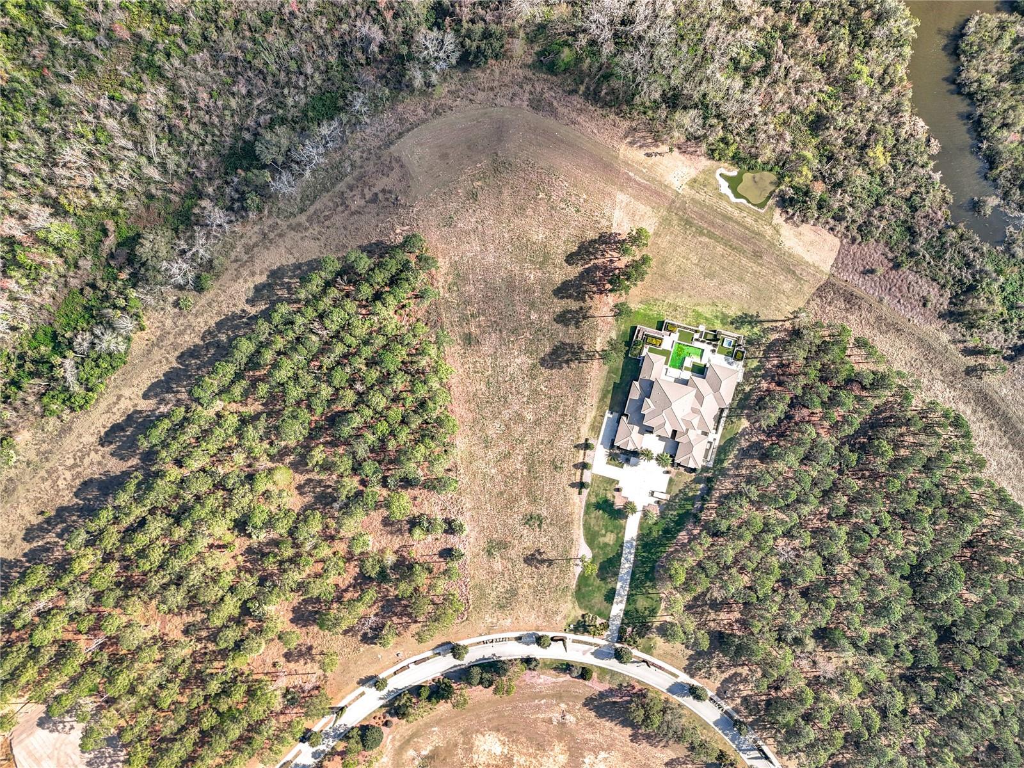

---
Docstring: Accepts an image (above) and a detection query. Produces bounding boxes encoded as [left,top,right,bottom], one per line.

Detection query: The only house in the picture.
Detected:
[614,353,738,468]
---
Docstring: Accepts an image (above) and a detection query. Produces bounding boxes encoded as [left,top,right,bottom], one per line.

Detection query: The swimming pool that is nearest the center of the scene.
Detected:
[668,341,705,371]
